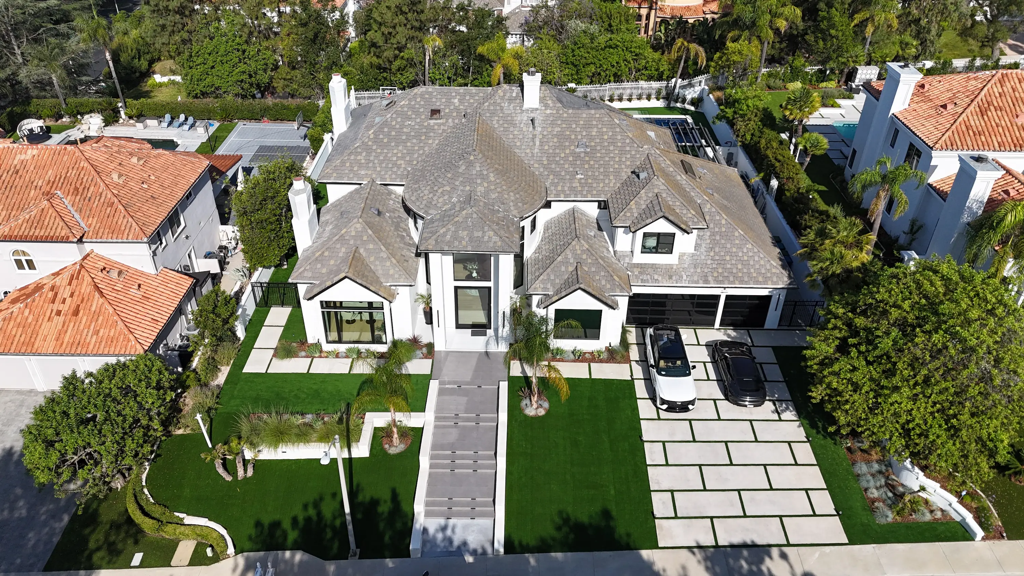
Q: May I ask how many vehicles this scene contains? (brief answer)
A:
2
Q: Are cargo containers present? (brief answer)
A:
No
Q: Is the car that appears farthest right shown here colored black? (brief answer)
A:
Yes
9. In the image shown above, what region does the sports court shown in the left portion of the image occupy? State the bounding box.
[214,121,309,189]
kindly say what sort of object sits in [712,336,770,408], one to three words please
car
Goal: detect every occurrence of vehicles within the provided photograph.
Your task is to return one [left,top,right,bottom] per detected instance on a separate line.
[712,336,770,408]
[645,327,699,408]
